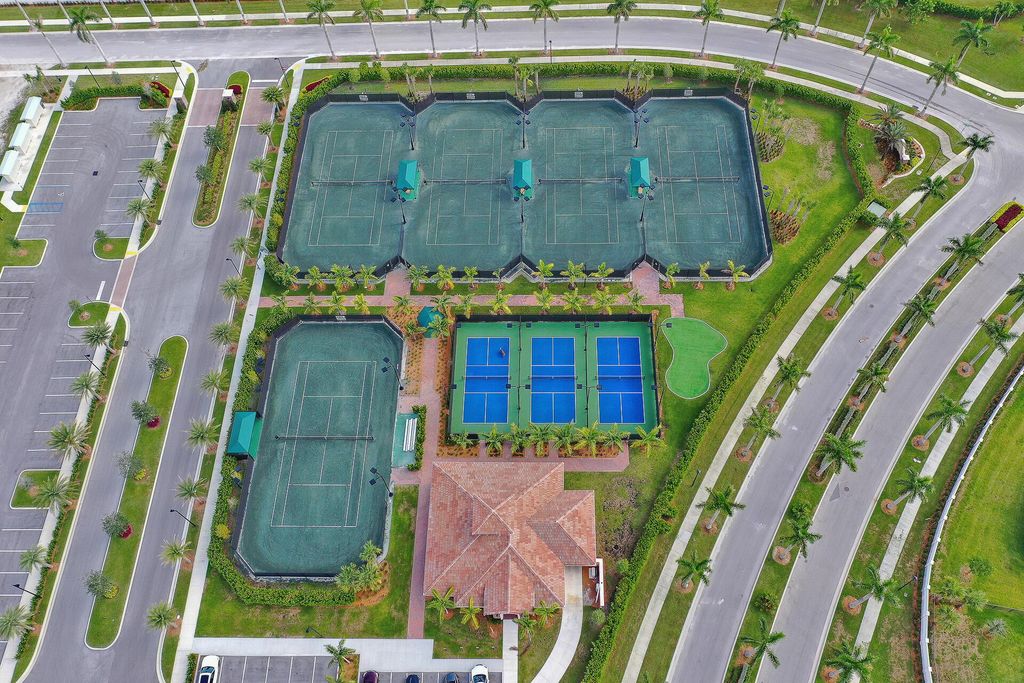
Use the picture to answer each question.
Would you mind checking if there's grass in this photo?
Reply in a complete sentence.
Yes, there is grass in the image.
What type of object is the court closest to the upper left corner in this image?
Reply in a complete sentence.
From above, the court closest to the upper left corner can be identified as a tennis court.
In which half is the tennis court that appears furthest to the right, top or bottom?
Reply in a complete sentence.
Seen from above, the tennis court that appears furthest to the right lies in the top half of the view.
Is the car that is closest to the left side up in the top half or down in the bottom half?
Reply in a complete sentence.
You can find the car that is closest to the left side in the bottom half.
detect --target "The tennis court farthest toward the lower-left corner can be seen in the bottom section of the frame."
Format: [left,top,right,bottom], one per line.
[239,324,402,576]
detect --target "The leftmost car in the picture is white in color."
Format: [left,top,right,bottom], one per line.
[197,655,219,683]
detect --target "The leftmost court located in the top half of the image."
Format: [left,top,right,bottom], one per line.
[283,104,416,272]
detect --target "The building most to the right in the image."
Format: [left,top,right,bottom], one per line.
[630,157,650,198]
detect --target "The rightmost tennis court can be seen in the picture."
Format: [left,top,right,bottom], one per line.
[635,98,767,270]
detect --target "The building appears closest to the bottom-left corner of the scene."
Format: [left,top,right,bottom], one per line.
[228,412,256,460]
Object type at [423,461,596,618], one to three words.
building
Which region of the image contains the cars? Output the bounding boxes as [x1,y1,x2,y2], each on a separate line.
[362,670,379,683]
[444,672,461,683]
[197,655,219,683]
[470,665,489,683]
[404,674,421,683]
